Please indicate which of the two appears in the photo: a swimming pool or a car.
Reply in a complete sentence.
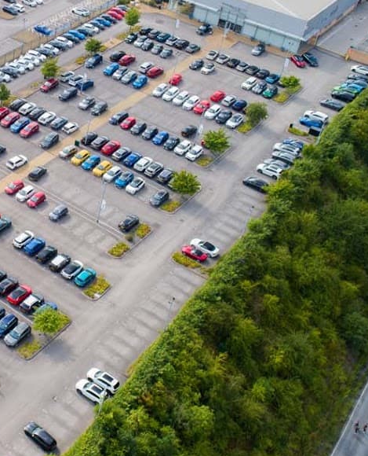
The one in the frame is a car.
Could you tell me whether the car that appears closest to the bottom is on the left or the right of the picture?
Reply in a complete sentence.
The car that appears closest to the bottom appears in the left half of the scene.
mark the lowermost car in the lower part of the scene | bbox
[23,421,59,453]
